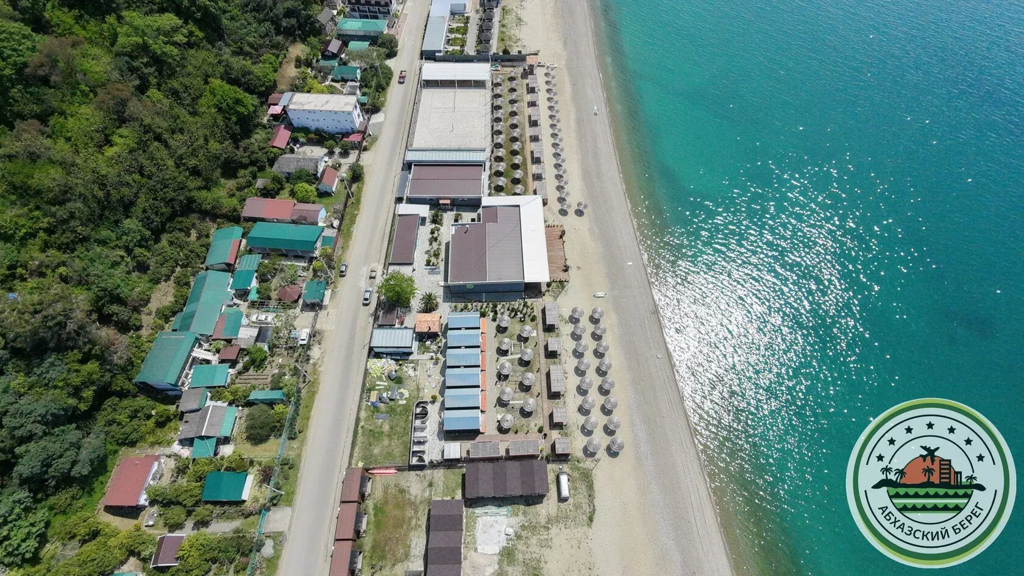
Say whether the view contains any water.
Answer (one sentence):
Yes, there is water in the image.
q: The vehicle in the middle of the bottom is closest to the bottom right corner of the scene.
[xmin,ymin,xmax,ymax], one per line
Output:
[558,472,571,500]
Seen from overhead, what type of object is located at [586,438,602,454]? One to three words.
umbrella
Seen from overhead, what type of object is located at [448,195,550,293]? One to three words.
building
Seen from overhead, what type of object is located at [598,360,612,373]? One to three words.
umbrella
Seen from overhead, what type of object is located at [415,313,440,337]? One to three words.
shed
